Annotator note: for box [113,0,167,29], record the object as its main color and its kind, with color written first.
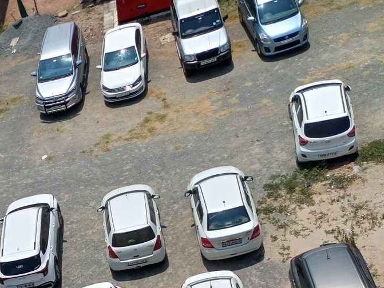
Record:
red truck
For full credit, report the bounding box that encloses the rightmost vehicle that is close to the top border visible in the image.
[237,0,312,58]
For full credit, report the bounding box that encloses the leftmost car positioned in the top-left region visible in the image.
[28,17,89,113]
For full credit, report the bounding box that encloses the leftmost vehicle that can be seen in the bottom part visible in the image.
[0,193,61,288]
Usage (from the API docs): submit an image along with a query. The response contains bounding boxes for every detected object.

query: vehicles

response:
[113,0,167,29]
[28,17,89,113]
[93,24,150,103]
[282,248,371,288]
[166,0,232,74]
[93,178,165,271]
[0,193,61,288]
[283,77,357,164]
[237,0,312,58]
[179,161,259,260]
